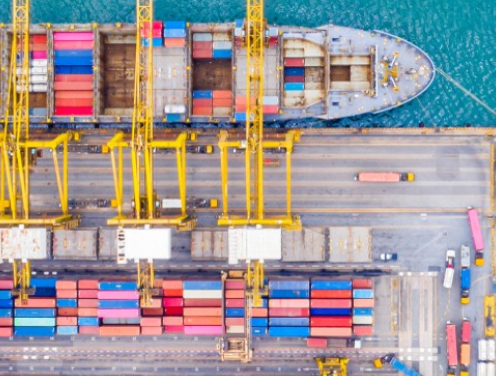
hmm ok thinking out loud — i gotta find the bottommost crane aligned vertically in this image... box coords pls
[215,264,260,362]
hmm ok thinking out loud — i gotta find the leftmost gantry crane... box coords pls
[0,0,83,303]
